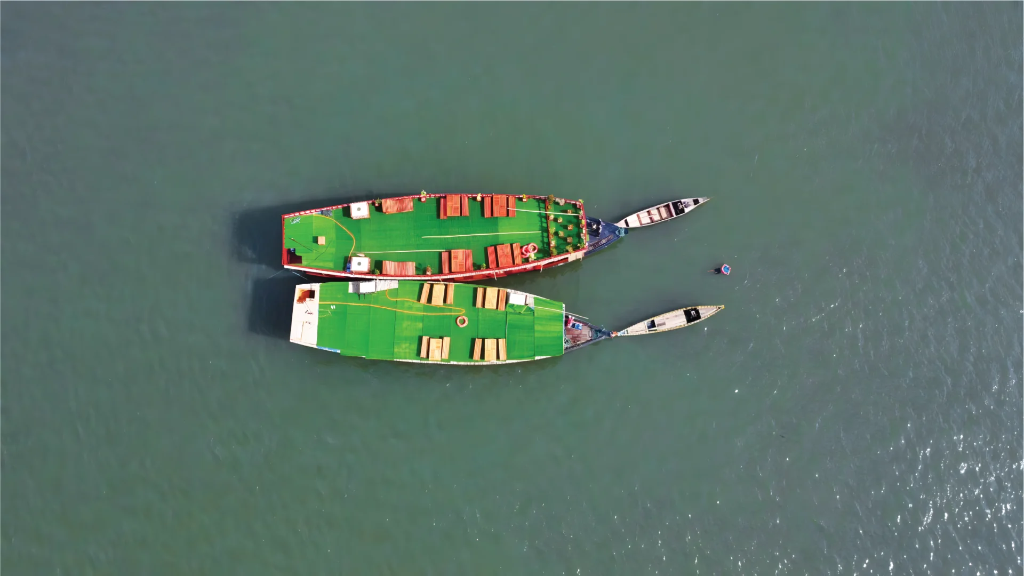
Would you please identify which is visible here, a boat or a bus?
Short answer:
boat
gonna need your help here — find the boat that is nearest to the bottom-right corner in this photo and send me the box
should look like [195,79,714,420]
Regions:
[619,305,725,335]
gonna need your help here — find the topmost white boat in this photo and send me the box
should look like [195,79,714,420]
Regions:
[616,196,712,228]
